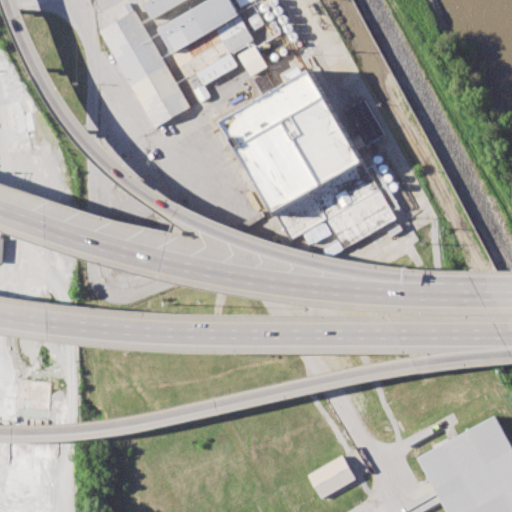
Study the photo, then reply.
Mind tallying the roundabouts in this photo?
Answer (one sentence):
There are no roundabouts in this view.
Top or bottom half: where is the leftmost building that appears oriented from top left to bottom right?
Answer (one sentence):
It is in the top half that the leftmost building that appears oriented from top left to bottom right appears.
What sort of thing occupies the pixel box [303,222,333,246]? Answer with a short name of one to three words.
shed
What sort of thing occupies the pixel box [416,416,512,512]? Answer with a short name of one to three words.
building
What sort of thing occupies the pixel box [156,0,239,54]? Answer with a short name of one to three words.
building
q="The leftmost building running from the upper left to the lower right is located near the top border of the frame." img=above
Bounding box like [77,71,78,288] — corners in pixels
[100,10,191,128]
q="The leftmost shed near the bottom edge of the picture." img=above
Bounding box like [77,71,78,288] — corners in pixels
[307,454,356,500]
